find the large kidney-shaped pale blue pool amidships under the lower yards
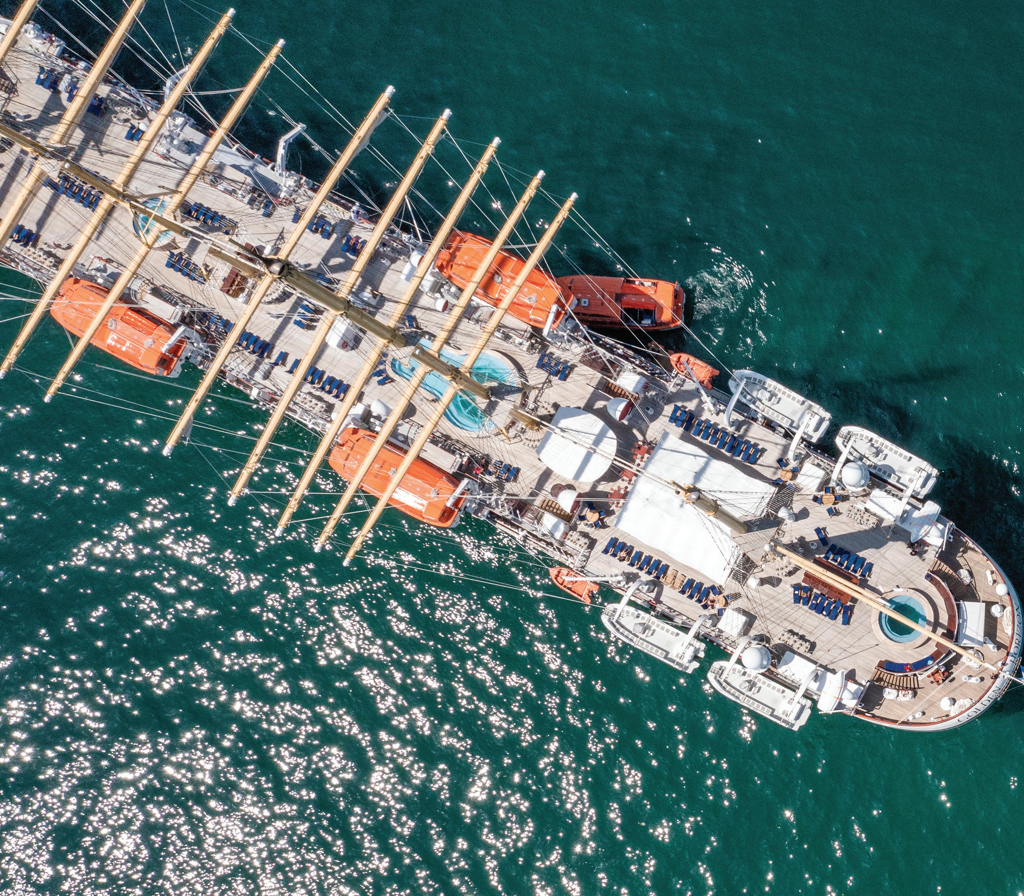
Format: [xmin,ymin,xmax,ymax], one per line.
[383,332,522,438]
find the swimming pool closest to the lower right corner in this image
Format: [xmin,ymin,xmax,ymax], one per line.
[871,588,934,650]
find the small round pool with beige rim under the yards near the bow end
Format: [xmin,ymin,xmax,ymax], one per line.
[118,190,184,253]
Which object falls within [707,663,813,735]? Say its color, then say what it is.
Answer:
white boat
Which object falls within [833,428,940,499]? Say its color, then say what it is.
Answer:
white boat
